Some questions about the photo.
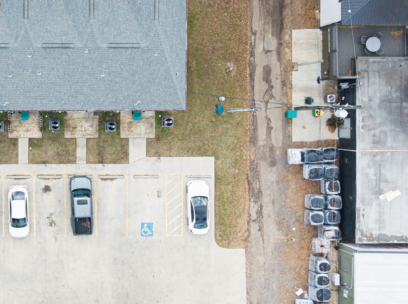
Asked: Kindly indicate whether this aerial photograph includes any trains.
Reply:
No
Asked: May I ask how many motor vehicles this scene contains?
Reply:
3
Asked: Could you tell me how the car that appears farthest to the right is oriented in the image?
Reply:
from top to bottom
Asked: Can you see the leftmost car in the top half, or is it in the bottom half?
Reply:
bottom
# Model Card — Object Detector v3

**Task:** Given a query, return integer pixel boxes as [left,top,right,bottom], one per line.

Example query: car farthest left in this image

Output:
[7,186,30,238]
